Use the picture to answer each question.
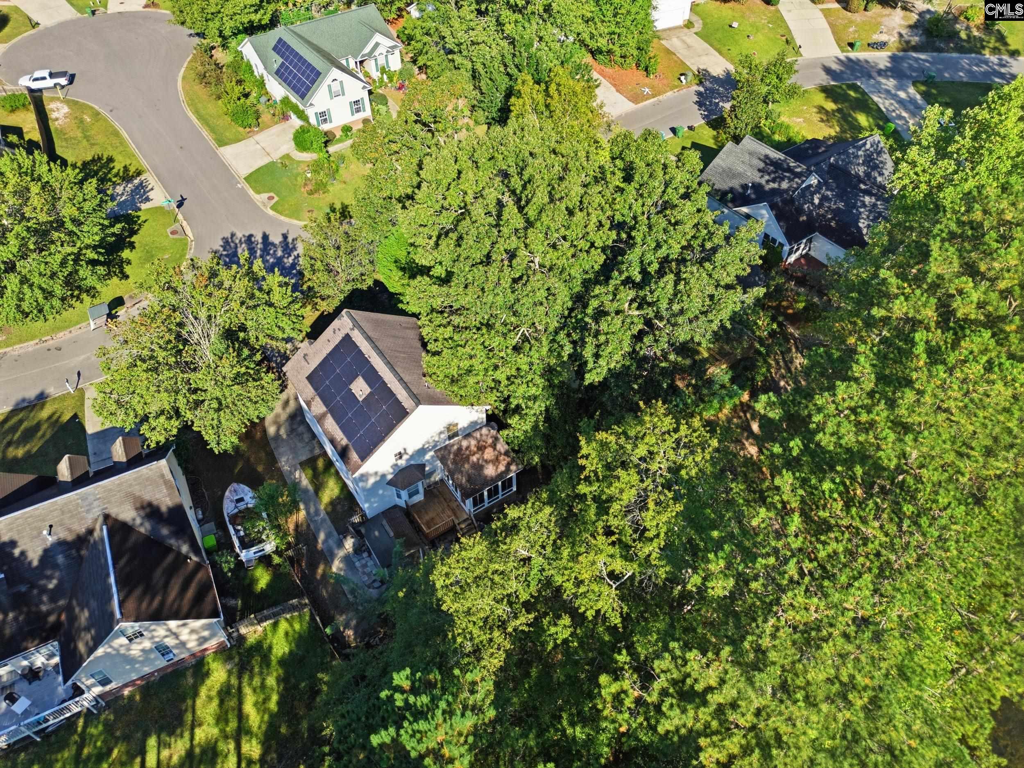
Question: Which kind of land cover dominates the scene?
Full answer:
The scene is dominated by trees.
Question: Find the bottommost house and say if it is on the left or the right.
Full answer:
You can find the bottommost house on the left side of the picture.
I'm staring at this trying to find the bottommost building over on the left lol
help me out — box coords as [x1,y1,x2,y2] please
[0,434,238,704]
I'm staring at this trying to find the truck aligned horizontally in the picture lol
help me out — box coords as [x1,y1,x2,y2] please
[20,69,78,91]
